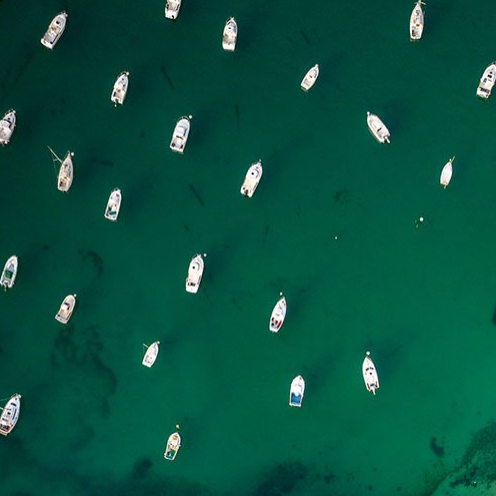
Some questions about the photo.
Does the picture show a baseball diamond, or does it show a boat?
boat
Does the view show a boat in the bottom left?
Yes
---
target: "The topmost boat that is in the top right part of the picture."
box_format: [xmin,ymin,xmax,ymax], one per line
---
[410,0,426,43]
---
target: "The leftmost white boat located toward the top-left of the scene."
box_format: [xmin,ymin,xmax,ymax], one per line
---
[0,109,17,145]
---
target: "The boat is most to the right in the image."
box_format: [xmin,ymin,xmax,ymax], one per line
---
[476,62,496,102]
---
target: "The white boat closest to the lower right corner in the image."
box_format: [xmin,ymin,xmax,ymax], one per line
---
[362,357,380,394]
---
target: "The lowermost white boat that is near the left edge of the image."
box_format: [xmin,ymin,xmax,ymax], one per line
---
[0,394,22,436]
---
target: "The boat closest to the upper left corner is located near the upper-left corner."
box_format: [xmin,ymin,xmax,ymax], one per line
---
[42,12,68,51]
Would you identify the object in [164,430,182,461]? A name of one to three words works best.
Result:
boat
